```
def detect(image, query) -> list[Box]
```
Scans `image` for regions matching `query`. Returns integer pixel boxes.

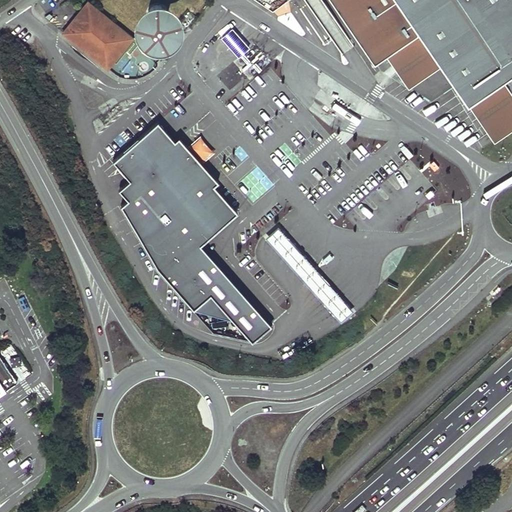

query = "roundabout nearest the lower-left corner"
[93,358,233,498]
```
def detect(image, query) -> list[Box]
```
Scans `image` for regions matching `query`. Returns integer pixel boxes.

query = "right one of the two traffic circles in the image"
[470,164,512,264]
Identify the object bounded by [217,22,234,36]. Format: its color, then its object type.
white vehicle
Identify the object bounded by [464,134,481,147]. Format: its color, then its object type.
white vehicle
